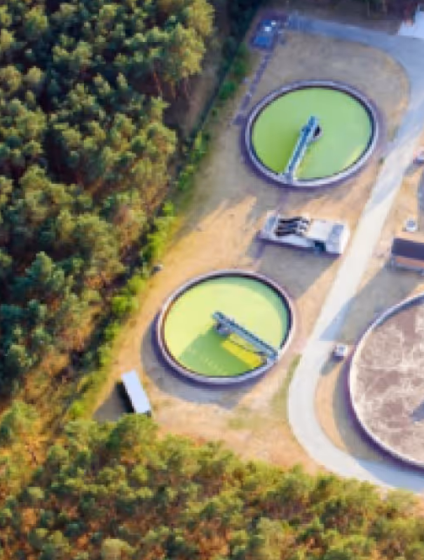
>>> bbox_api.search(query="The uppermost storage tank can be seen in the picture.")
[239,81,385,195]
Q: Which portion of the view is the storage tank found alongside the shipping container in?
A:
center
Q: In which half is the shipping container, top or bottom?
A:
bottom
